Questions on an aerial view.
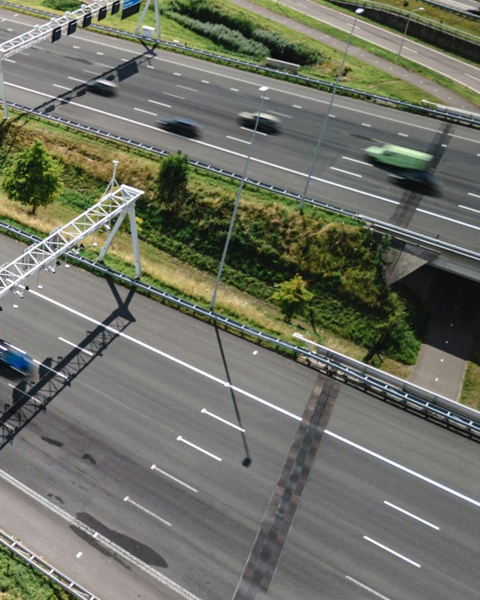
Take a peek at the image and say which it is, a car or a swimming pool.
car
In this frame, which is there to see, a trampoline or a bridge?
bridge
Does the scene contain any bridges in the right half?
Yes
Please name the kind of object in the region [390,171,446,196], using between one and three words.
car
